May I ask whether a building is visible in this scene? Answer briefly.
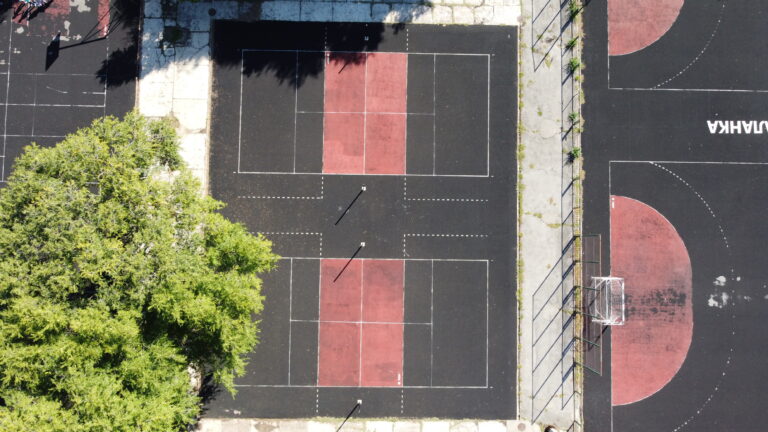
No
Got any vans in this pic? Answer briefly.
No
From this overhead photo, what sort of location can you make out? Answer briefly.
sports ground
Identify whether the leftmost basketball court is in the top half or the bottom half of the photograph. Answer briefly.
top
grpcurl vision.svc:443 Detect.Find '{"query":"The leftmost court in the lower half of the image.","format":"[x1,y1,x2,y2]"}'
[228,232,493,412]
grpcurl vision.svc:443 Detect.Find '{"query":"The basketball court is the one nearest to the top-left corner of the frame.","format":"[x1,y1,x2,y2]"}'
[0,0,110,106]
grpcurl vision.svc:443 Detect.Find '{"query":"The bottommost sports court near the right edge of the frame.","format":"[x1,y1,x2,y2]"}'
[609,161,768,432]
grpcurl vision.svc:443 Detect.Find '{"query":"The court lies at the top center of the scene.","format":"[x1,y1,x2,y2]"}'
[234,28,493,200]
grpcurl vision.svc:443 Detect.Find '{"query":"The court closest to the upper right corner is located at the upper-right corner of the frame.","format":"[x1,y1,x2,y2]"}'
[608,0,768,92]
